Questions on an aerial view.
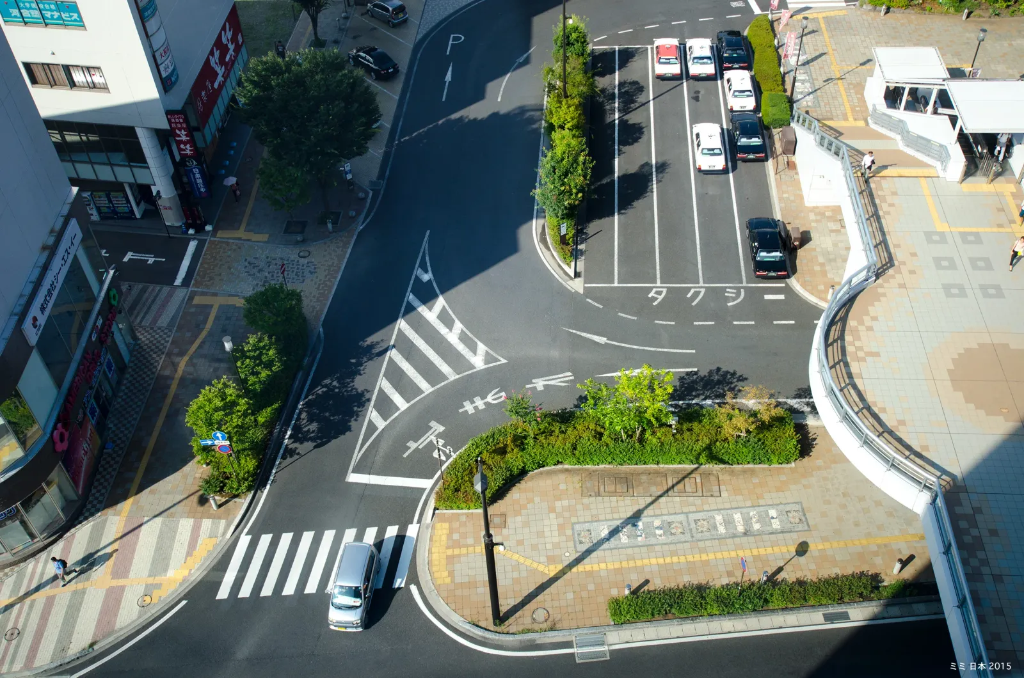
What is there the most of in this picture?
paved ground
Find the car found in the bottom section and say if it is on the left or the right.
left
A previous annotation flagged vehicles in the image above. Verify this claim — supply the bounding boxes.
[359,0,405,30]
[652,31,680,77]
[725,60,756,109]
[732,105,766,159]
[330,545,382,629]
[746,211,785,276]
[691,115,726,171]
[341,42,403,80]
[718,21,748,67]
[685,31,715,77]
